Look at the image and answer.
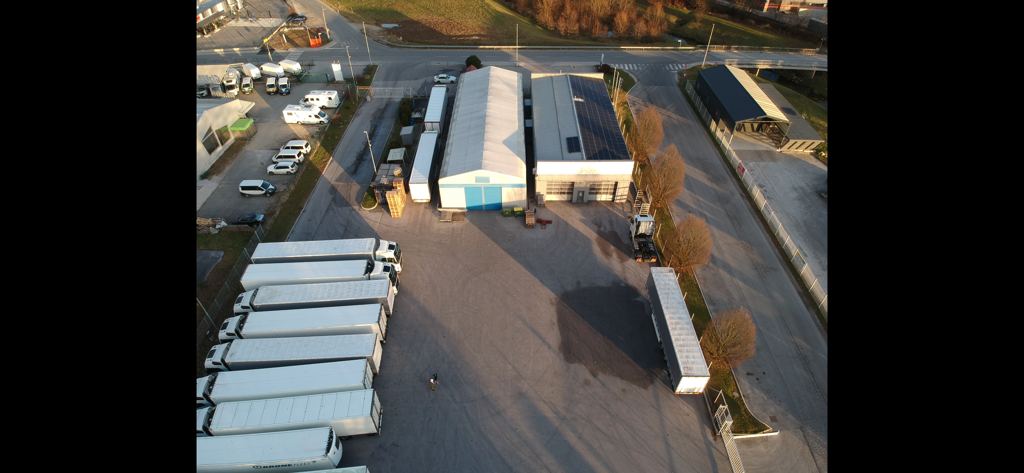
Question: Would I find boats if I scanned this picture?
No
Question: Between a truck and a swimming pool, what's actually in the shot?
truck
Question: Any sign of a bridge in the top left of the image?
No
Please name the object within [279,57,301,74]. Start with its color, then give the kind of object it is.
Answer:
white vehicle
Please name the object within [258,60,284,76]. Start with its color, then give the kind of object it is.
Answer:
white vehicle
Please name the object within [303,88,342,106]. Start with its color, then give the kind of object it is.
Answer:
white camper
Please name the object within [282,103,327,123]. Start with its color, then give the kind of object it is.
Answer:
white camper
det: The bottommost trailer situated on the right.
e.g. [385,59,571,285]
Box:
[646,269,710,396]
